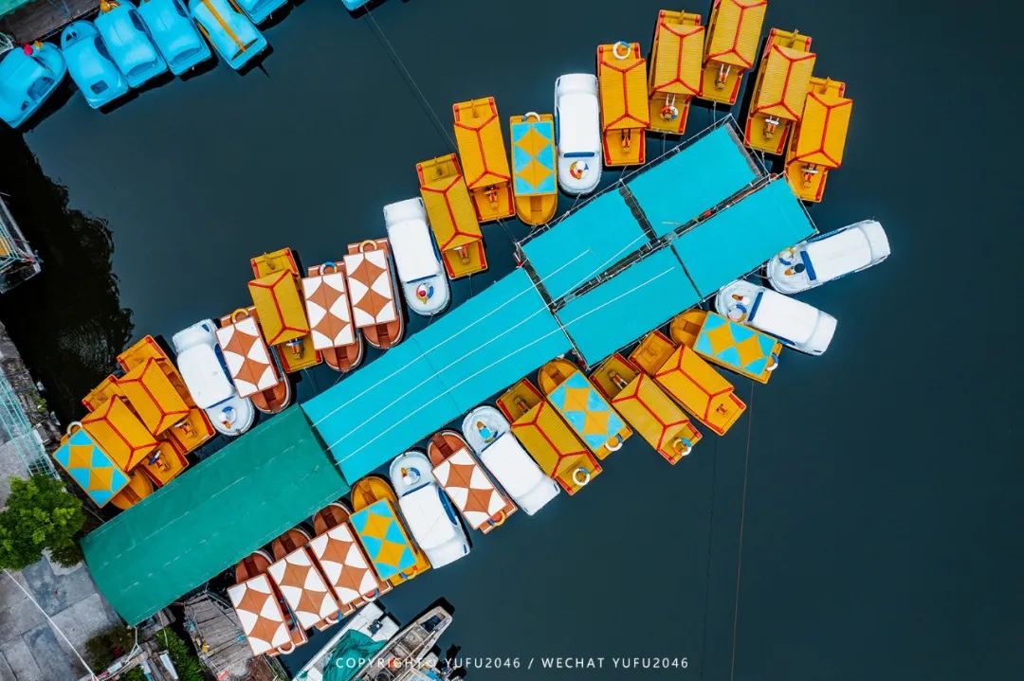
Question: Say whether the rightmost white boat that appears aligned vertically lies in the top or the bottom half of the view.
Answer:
top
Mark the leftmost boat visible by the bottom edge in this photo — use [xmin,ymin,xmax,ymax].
[229,549,310,660]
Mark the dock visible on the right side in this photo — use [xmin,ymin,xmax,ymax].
[515,113,820,371]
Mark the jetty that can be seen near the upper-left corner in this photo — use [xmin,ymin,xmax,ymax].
[1,0,95,44]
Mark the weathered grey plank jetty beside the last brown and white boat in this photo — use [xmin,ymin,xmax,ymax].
[182,578,283,681]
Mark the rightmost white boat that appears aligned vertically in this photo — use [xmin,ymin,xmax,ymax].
[553,73,603,207]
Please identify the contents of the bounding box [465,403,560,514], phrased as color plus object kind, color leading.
white boat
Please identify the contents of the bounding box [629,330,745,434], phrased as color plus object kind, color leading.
orange boat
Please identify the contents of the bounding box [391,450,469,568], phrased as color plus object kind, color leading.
white boat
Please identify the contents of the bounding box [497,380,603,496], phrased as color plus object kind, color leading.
yellow boat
